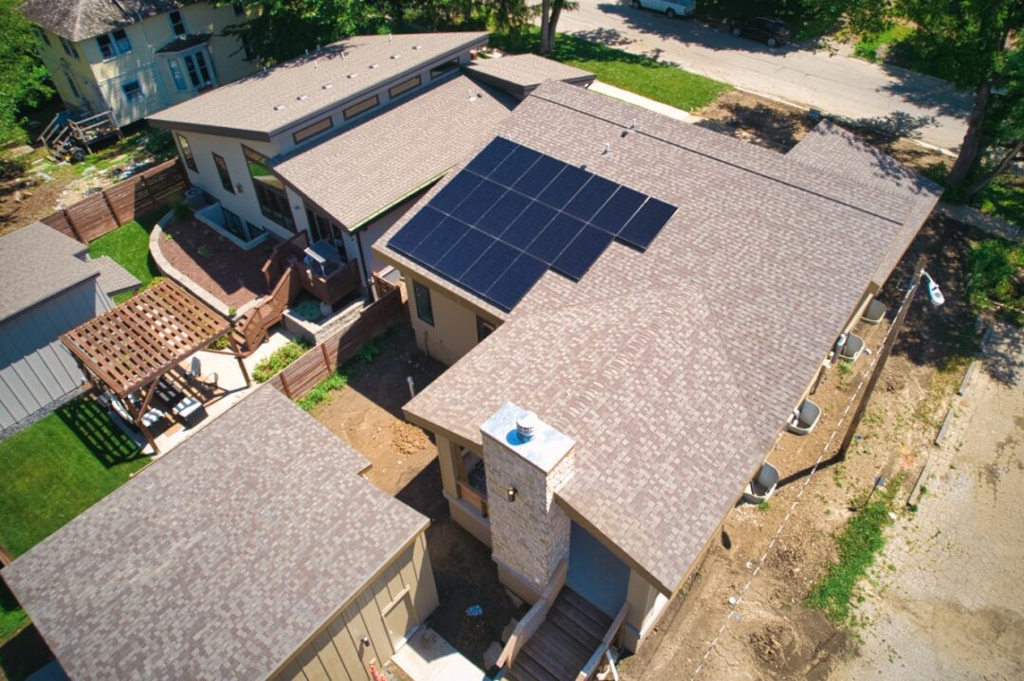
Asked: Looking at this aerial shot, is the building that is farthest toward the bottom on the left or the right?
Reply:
left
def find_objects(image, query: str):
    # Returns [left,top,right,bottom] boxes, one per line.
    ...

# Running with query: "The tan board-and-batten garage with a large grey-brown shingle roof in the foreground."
[0,384,439,681]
